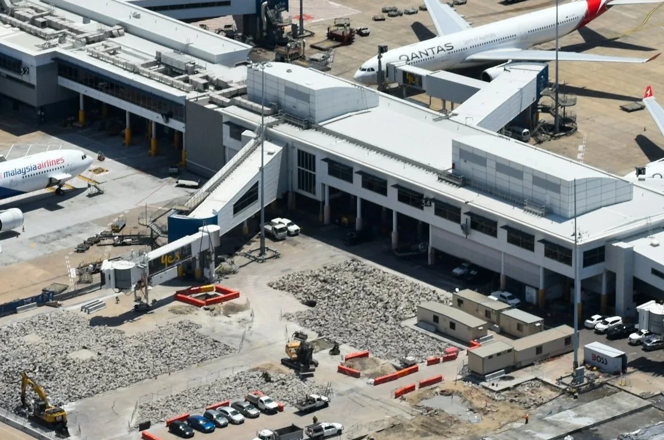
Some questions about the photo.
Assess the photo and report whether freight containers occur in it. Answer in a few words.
Yes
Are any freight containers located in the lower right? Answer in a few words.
Yes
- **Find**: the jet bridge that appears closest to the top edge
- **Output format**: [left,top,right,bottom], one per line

[343,59,502,131]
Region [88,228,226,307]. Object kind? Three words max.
jet bridge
